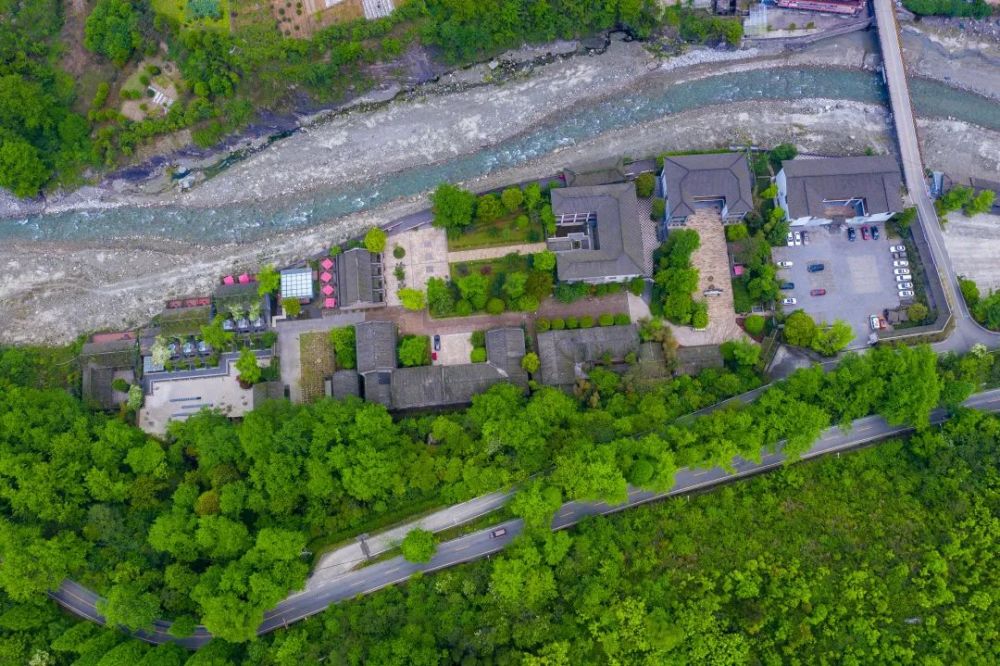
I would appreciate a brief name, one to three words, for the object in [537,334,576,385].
house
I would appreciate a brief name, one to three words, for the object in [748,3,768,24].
greenhouse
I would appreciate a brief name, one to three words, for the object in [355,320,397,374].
house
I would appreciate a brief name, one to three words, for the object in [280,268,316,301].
building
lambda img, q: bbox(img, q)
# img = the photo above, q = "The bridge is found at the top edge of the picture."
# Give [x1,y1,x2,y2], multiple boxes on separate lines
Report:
[870,0,932,193]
